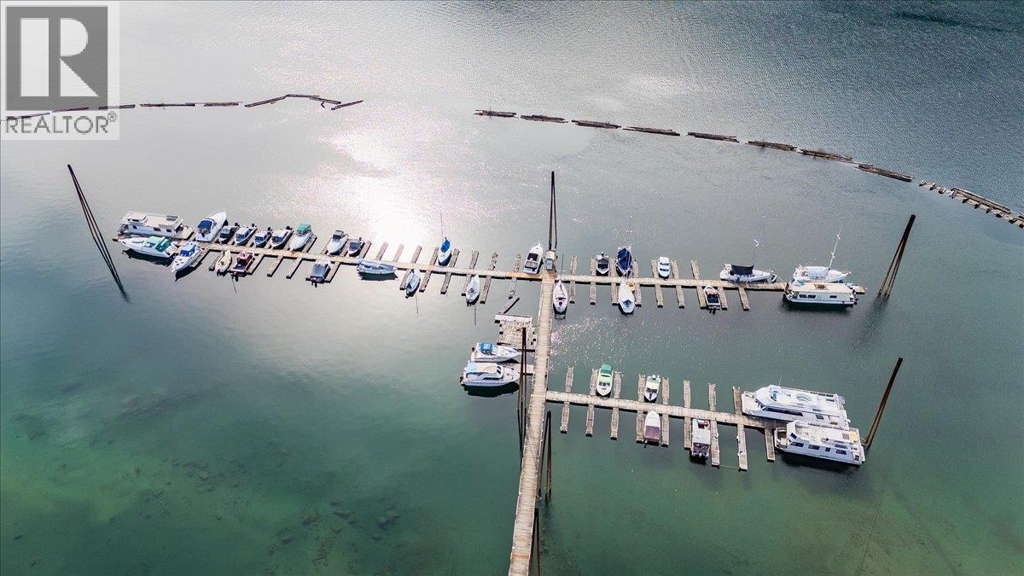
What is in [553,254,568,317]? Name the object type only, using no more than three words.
boat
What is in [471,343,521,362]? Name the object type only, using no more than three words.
boat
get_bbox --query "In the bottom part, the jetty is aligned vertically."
[497,282,554,576]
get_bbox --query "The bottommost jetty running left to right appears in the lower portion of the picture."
[546,366,783,472]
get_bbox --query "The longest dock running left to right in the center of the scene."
[112,223,866,311]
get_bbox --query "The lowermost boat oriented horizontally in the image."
[775,412,867,467]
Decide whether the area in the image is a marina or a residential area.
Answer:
marina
